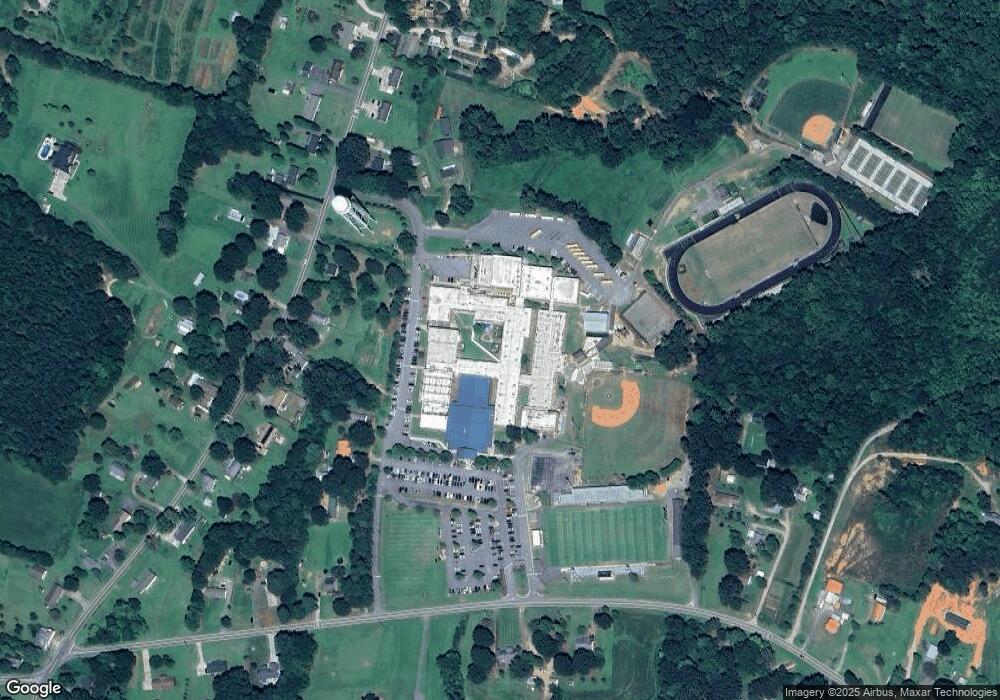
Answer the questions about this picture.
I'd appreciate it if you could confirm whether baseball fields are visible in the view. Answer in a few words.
Yes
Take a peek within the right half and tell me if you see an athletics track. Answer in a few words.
Yes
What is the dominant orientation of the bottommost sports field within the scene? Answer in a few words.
horizontally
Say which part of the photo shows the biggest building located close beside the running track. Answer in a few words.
center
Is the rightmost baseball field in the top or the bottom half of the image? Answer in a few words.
top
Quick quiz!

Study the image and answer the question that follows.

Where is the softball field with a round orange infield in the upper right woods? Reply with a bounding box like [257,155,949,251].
[757,51,857,148]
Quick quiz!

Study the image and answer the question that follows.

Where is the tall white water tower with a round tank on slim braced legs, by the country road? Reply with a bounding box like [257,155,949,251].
[333,196,377,236]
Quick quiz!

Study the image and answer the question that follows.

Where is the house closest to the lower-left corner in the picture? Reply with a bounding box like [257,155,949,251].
[35,626,58,649]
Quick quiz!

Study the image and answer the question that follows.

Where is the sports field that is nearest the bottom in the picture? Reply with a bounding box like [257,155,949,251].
[544,504,669,567]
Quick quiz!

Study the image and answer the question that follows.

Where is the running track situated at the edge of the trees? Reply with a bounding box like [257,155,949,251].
[663,182,842,316]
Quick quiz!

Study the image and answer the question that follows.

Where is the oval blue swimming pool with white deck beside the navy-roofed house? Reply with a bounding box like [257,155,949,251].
[37,137,56,161]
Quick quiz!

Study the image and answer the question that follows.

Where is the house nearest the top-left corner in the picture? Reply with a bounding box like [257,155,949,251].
[55,143,81,172]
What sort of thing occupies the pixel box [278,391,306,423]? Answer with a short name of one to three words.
house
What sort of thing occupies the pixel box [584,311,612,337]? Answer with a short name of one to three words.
building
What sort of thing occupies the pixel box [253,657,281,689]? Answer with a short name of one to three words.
house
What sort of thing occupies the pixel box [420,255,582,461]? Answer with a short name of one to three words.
building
